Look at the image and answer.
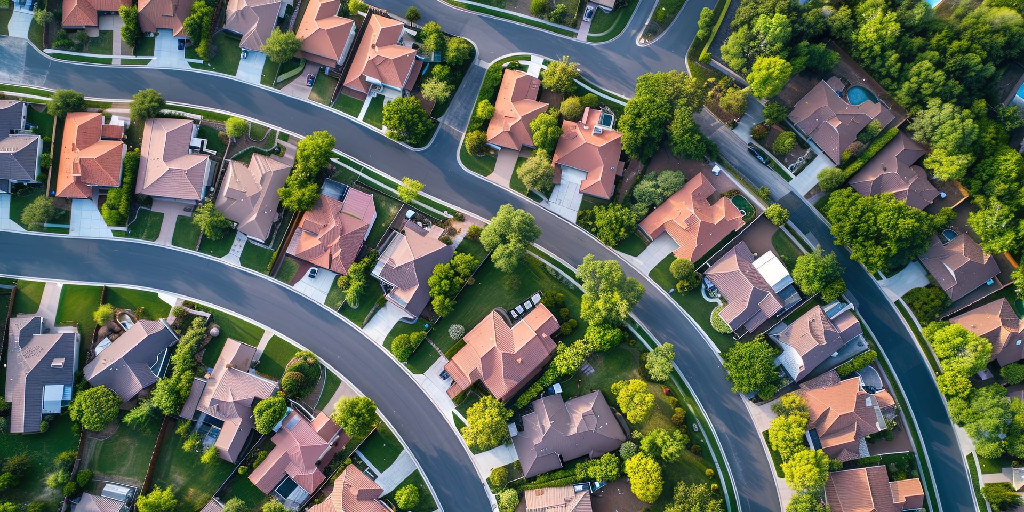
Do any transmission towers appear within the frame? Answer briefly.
No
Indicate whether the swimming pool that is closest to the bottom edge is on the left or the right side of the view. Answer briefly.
left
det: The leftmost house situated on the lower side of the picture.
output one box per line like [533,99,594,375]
[7,316,81,435]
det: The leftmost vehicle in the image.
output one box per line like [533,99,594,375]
[176,38,188,55]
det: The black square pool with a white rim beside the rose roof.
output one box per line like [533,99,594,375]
[274,476,300,500]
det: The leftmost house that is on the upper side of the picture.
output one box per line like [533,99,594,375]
[0,98,46,194]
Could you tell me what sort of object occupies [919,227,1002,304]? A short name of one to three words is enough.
house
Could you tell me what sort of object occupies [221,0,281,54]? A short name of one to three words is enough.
house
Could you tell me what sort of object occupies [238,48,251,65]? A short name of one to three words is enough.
vehicle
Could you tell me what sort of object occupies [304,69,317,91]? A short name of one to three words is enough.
vehicle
